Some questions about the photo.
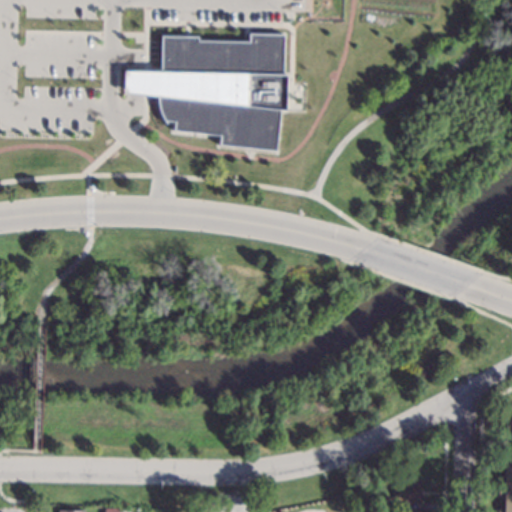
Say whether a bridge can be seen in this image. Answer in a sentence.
Yes, the image includes a bridge.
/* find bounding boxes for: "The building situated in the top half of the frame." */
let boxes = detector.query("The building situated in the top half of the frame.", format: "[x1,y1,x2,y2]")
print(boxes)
[124,34,288,150]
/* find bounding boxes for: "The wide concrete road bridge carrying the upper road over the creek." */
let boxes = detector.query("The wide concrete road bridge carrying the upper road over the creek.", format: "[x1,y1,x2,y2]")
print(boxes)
[352,231,484,303]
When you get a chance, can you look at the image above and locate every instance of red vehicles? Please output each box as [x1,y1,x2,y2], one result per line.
[276,12,281,24]
[88,87,94,100]
[269,11,275,24]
